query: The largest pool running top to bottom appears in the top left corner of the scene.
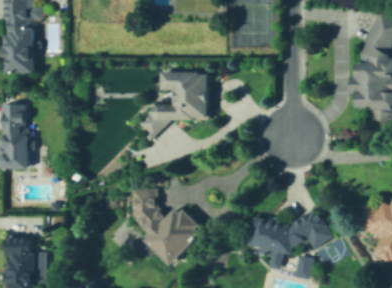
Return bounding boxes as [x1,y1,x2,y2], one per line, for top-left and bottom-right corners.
[47,17,60,54]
